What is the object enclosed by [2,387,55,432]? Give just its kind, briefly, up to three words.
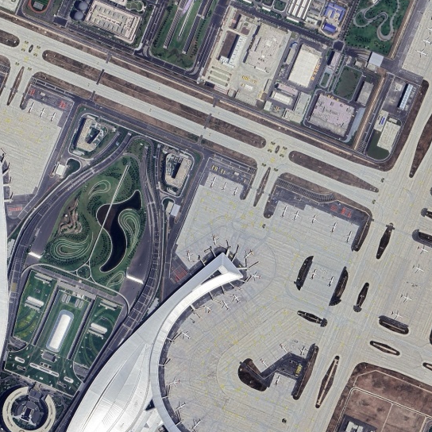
building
